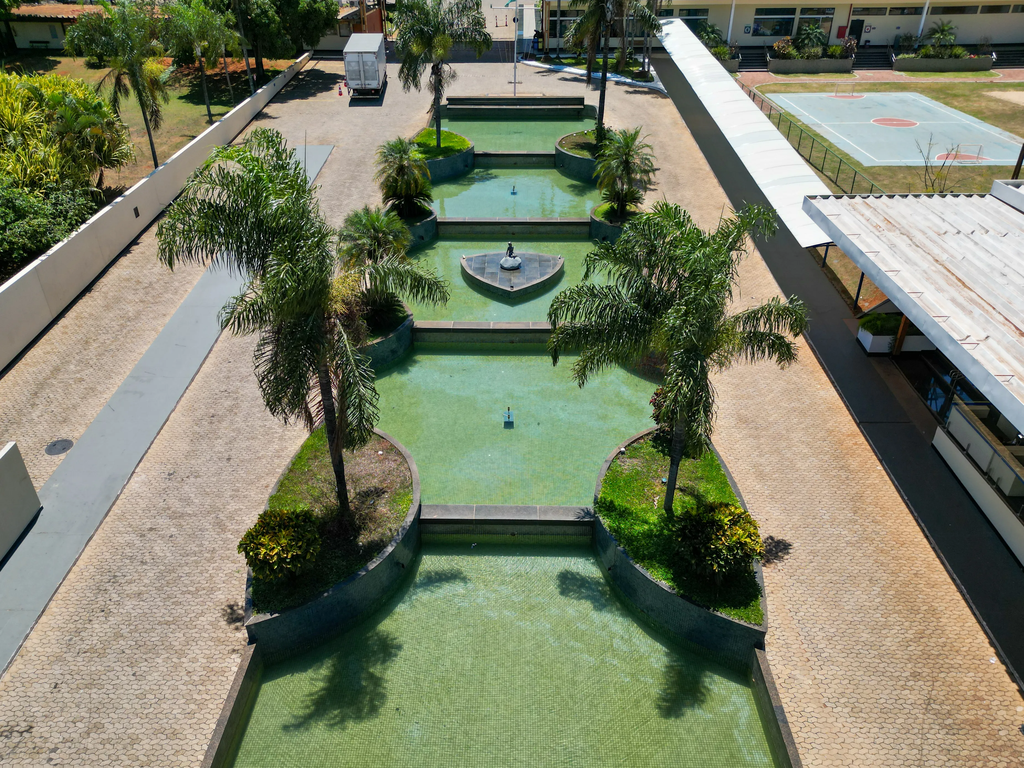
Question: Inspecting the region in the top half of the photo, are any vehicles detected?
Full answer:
Yes, a vehicle is visible in the top half of the photo.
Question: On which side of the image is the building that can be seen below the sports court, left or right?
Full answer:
The building that can be seen below the sports court appears in the right half of the scene.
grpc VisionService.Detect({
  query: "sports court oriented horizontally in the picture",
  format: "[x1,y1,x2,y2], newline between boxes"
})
[769,92,1020,166]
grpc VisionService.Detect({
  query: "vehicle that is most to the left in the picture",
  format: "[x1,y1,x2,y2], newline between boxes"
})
[342,35,393,97]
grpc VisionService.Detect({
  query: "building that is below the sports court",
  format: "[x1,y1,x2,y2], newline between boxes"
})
[802,194,1024,463]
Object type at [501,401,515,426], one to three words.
fountain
